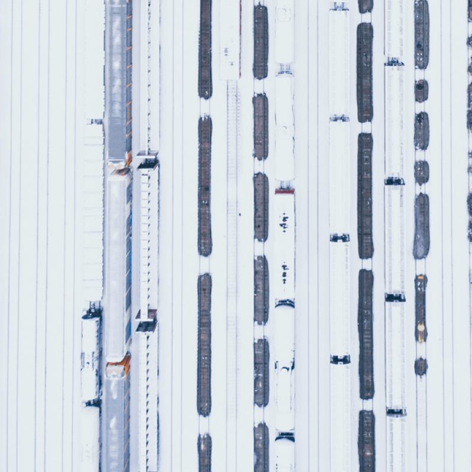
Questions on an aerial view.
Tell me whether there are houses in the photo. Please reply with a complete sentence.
No, no house can be seen from above.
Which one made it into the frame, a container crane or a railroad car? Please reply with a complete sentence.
The one in the frame is a railroad car.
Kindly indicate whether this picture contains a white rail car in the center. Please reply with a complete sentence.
Yes, the scene does show a white rail car in the center.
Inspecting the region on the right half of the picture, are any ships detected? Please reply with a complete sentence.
No, the scene shows no ship on the right half of the picture.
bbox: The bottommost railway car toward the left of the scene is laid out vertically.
[79,398,103,472]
